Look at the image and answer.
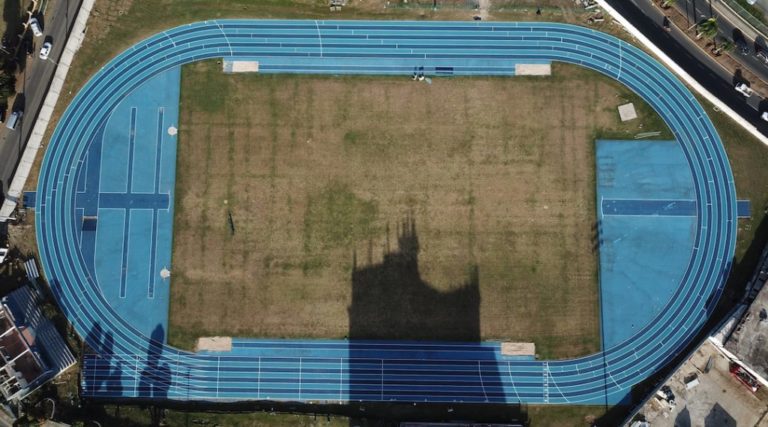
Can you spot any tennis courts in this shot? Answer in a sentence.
No, there is no tennis court in the image.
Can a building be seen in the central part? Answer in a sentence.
No, looking in the central part, there is no building.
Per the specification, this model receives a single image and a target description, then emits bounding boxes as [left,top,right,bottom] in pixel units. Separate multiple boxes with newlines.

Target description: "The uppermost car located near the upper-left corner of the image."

[30,17,42,37]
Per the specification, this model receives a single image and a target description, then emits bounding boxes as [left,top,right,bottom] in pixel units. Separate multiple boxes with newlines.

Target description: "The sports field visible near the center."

[167,58,678,361]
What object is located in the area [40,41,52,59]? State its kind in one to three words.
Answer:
vehicle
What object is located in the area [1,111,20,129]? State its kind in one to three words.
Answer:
vehicle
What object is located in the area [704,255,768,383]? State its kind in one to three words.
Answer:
building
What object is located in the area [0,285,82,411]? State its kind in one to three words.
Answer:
building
